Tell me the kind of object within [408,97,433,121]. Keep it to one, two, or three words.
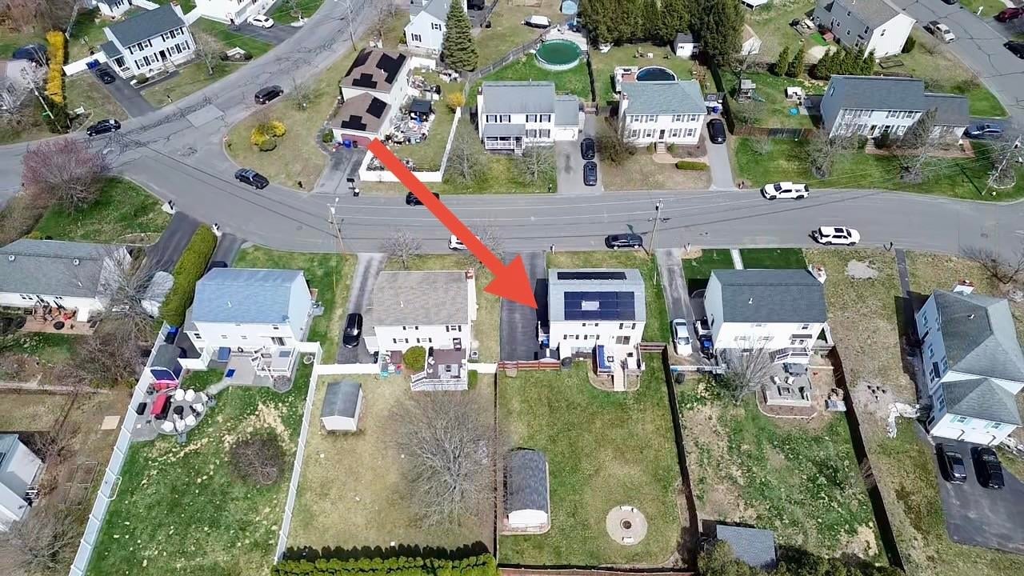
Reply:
gazebo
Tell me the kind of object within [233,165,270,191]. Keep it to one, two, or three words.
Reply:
car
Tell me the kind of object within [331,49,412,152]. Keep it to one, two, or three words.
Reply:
house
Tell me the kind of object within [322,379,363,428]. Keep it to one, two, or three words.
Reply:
shed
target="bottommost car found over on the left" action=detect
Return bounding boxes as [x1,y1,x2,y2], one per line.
[340,309,365,349]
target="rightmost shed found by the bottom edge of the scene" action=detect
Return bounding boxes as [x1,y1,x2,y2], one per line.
[717,527,783,576]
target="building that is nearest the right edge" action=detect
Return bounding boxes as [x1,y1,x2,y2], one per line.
[912,288,1024,438]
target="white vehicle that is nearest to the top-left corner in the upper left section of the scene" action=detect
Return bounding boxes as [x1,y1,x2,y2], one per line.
[246,15,275,30]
